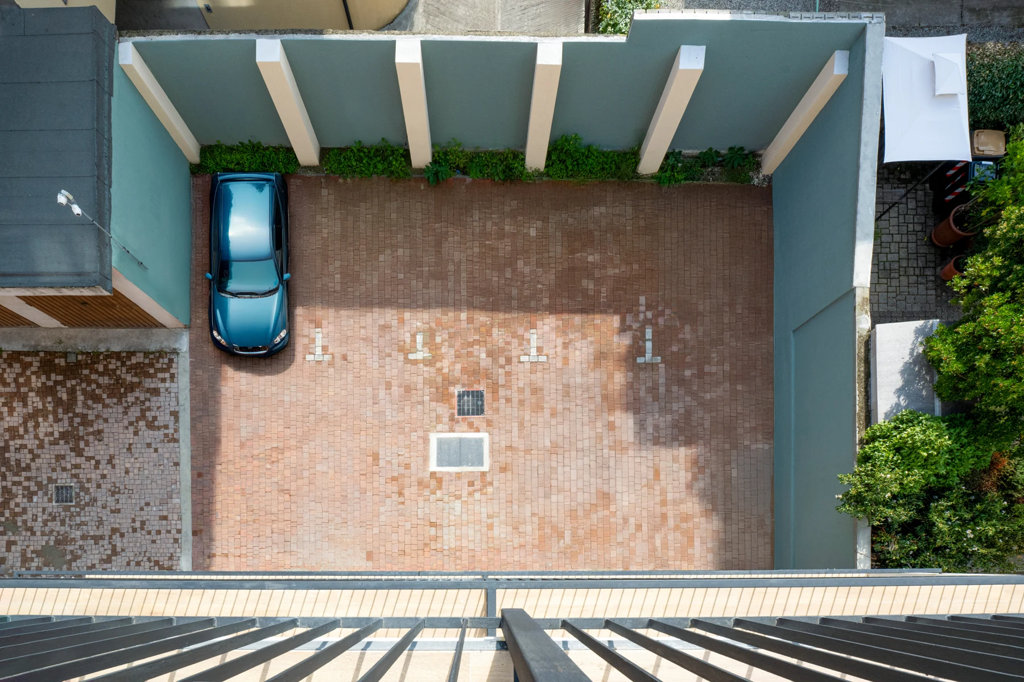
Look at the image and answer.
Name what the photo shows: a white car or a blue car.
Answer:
blue car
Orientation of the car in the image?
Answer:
up and down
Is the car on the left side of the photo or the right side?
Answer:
left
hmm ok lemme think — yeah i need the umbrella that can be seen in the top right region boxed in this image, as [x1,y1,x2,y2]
[873,34,971,233]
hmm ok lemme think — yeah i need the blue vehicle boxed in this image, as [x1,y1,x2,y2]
[202,172,291,363]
